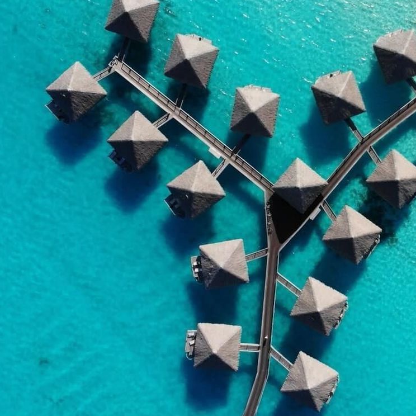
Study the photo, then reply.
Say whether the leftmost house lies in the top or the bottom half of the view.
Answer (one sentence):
The leftmost house sits in the top half of the picture.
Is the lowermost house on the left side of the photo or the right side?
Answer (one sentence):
It is on the right.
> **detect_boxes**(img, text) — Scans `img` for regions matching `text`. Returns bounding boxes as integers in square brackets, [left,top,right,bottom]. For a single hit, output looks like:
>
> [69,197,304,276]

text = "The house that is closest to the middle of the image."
[162,160,226,221]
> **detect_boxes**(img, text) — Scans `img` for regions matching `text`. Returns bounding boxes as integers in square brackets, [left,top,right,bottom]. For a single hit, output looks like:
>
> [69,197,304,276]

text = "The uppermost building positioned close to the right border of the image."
[373,28,416,85]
